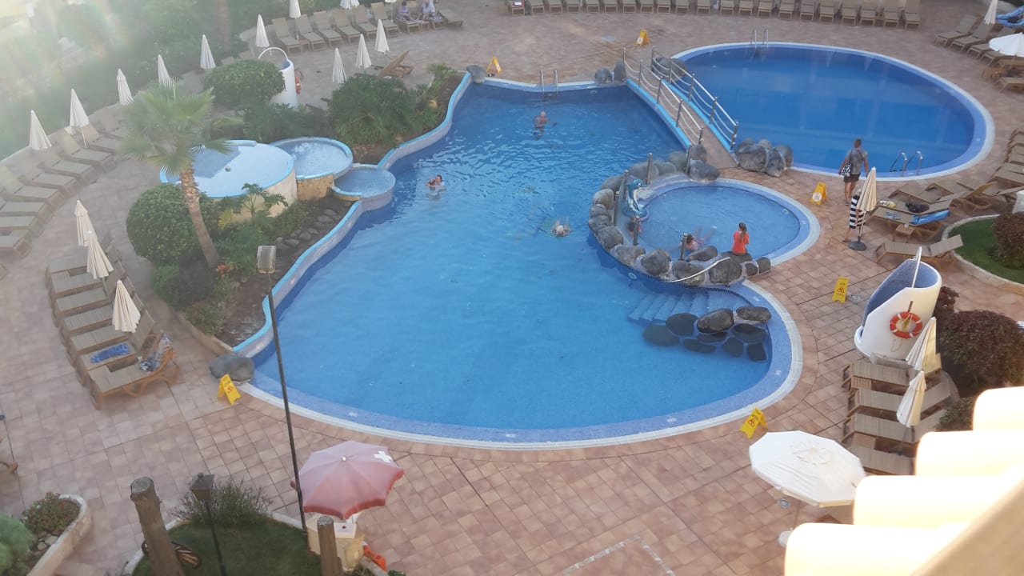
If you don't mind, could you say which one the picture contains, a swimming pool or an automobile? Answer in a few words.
swimming pool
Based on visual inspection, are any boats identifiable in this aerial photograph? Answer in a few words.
No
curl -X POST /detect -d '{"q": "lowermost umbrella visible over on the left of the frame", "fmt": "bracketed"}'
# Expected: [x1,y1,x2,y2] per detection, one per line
[288,436,405,522]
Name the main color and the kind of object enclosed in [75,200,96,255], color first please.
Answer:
white umbrella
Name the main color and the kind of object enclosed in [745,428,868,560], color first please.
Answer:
white umbrella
